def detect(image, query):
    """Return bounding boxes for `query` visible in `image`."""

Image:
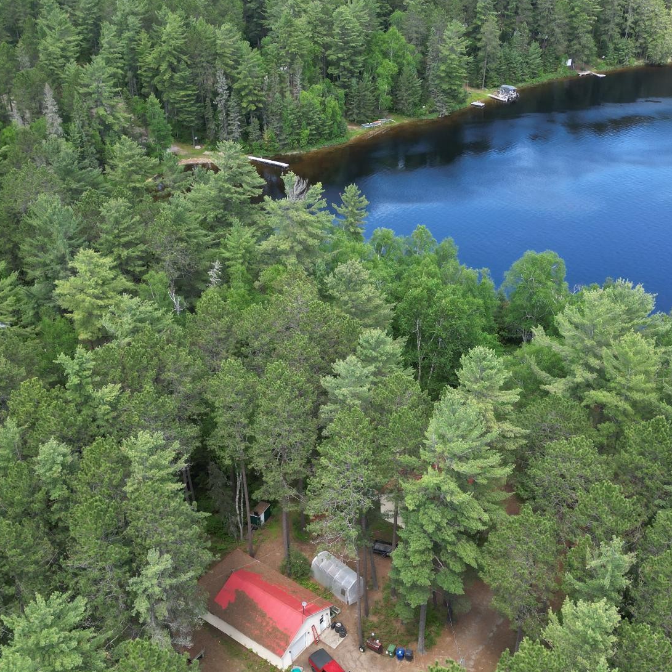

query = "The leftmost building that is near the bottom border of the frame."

[189,548,336,671]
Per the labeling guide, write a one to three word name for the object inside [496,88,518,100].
boat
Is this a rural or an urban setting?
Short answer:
rural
